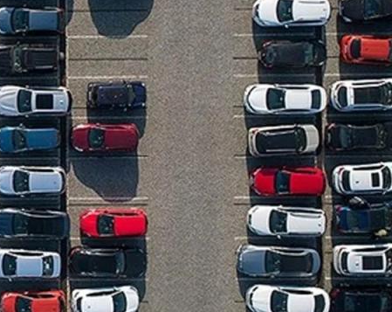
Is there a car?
Yes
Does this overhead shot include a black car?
Yes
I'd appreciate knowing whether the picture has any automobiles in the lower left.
Yes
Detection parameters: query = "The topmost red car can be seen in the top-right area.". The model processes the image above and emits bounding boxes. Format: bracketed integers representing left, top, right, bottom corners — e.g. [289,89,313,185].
[337,33,392,67]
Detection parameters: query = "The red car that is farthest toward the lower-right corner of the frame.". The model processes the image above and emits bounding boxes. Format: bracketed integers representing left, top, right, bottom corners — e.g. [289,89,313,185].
[249,165,324,200]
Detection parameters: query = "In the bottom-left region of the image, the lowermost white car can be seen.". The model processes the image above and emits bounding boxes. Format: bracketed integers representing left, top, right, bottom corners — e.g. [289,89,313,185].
[71,284,138,312]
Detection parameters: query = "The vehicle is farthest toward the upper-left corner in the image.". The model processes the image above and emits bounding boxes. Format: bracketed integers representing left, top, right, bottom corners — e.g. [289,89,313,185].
[0,3,60,37]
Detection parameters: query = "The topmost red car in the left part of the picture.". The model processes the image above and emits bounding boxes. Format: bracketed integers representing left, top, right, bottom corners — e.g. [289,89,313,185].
[68,121,139,156]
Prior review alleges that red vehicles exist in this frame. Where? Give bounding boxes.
[79,207,145,241]
[337,33,392,67]
[249,165,324,200]
[0,289,63,312]
[68,121,139,156]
